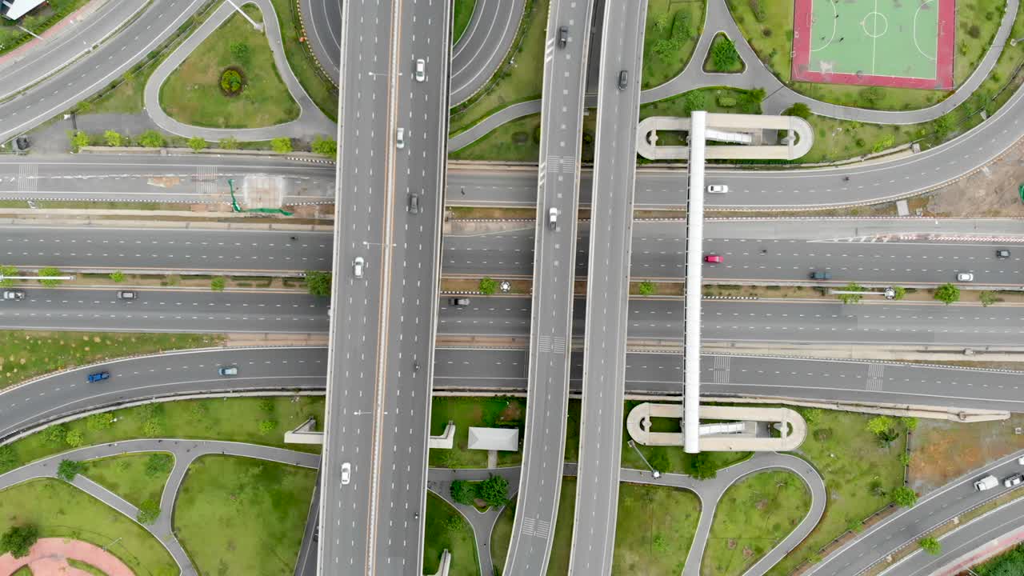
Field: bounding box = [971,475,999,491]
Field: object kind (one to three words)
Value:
vehicle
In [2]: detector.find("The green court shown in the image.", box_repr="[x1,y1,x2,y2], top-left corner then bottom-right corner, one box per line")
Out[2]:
[791,0,957,90]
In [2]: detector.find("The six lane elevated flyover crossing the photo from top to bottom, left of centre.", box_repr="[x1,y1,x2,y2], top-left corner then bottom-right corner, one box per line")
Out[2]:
[285,0,459,576]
